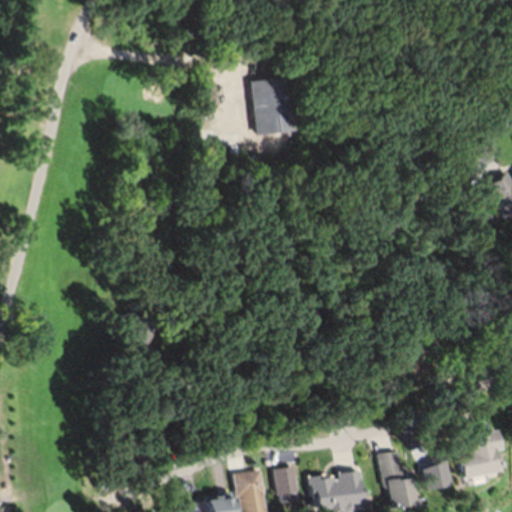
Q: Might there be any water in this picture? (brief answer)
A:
No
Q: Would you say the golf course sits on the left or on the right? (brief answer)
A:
left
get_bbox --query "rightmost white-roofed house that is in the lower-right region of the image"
[466,434,511,484]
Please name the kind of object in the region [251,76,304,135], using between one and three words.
barn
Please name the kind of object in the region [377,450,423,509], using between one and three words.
house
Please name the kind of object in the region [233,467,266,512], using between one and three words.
house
